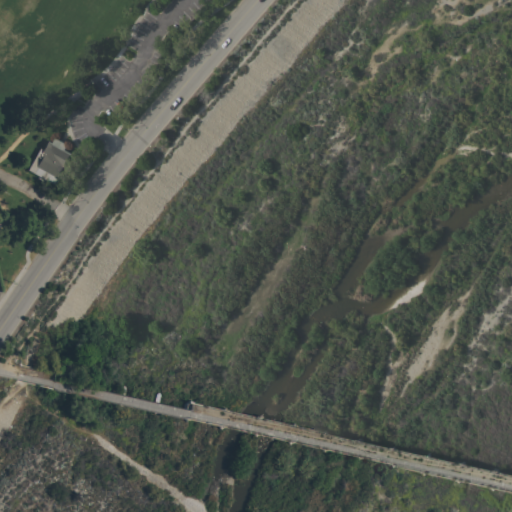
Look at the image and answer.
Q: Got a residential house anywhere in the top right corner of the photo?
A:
No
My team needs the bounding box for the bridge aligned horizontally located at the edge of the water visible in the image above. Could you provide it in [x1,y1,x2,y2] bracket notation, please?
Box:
[187,401,512,494]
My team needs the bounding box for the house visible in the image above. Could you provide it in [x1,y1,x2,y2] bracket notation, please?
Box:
[30,140,71,182]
